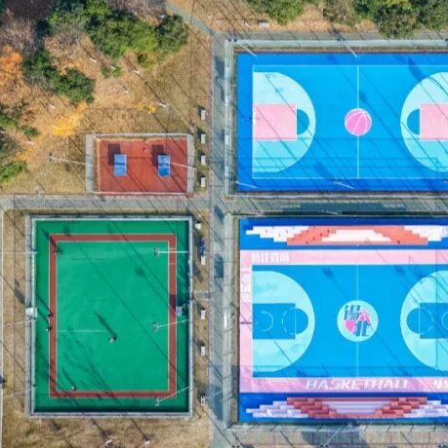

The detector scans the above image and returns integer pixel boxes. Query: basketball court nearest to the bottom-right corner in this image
[239,216,448,423]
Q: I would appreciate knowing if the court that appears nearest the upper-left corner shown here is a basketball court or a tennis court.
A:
tennis court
